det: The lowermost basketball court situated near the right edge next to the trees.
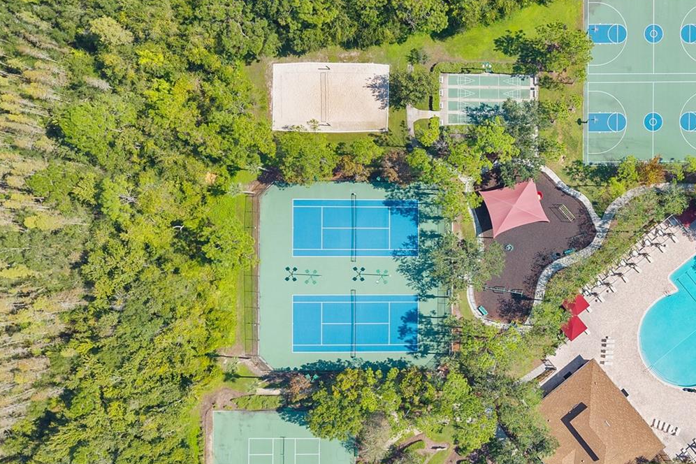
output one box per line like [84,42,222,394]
[585,78,696,164]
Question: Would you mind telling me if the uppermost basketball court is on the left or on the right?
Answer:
right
